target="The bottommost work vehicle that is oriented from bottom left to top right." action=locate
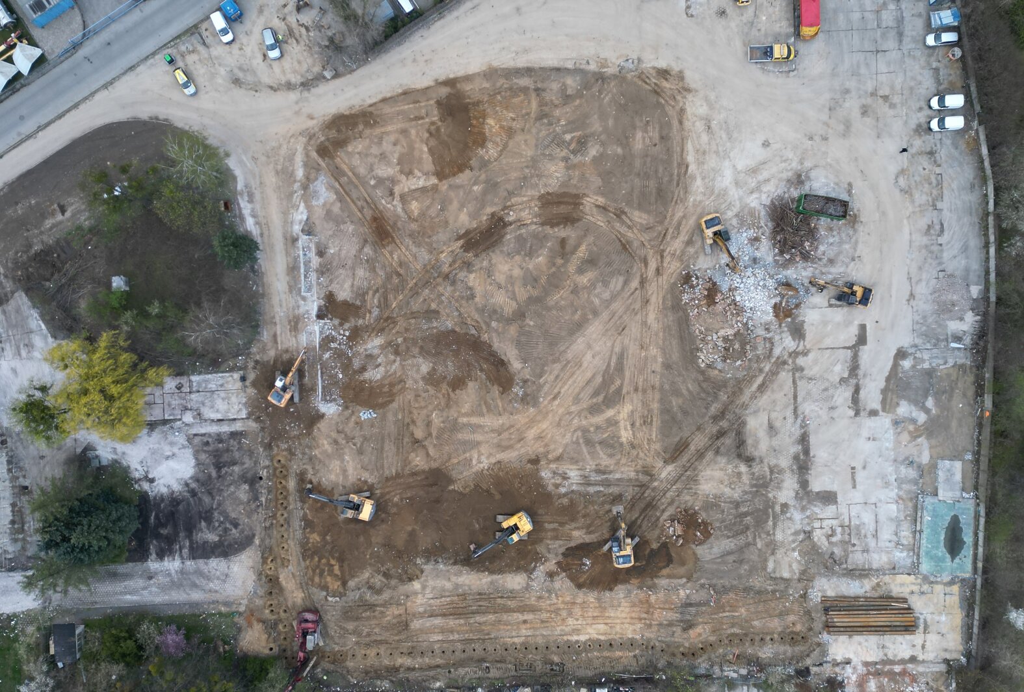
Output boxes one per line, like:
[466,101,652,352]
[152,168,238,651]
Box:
[459,510,537,562]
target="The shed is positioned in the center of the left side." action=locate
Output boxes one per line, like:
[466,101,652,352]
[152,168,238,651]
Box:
[111,276,135,291]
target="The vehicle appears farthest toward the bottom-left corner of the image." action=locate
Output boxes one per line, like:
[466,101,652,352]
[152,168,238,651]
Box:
[297,485,378,526]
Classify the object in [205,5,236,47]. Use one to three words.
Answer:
van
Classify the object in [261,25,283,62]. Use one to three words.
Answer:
car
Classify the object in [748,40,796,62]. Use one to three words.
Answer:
truck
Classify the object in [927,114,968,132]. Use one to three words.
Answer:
vehicle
